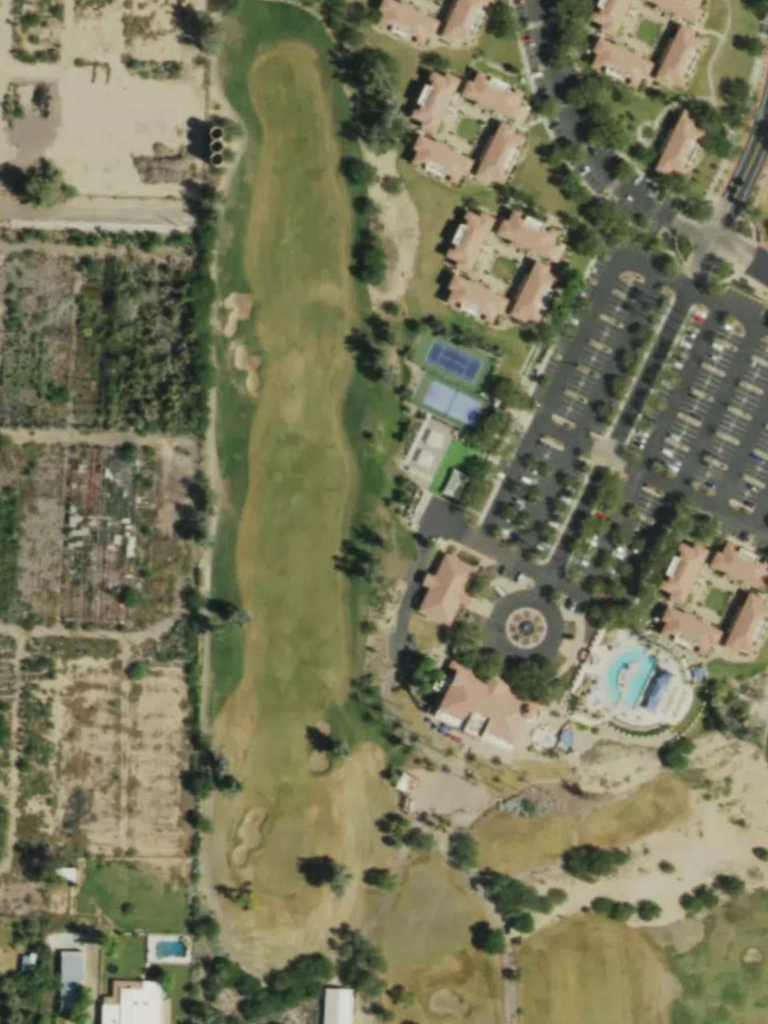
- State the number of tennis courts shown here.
2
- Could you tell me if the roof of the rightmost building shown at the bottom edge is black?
No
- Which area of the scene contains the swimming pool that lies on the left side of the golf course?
bottom left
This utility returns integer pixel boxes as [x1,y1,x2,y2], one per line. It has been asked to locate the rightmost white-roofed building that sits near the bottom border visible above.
[324,990,354,1024]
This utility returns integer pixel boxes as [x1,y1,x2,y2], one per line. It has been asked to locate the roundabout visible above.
[506,608,547,649]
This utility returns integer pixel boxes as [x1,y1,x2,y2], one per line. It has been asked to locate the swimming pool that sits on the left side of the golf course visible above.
[148,934,191,964]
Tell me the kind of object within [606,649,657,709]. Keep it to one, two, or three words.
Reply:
swimming pool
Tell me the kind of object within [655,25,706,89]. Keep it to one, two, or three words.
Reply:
building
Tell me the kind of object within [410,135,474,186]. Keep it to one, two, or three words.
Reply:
building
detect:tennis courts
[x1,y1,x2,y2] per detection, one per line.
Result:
[411,363,483,429]
[415,332,496,386]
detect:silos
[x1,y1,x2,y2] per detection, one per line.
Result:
[210,138,224,152]
[209,124,224,138]
[210,151,224,166]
